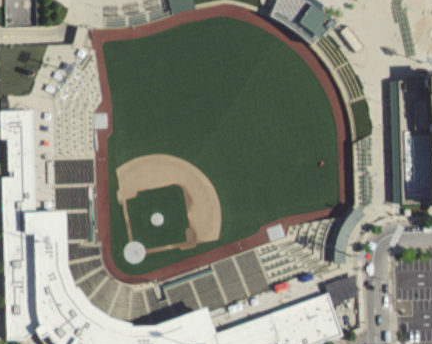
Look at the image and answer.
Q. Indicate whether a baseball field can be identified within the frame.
Yes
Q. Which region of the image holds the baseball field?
center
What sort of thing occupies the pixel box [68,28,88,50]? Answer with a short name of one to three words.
building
